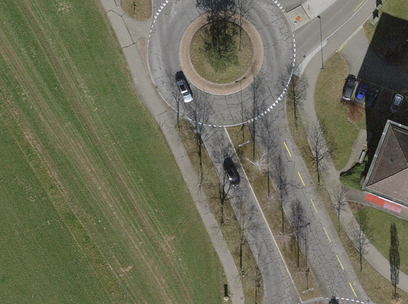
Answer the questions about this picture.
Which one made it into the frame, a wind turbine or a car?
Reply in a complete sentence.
Looking from above, you can make out a car.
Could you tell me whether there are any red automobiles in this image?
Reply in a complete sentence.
No, the picture doesn't show any red automobile.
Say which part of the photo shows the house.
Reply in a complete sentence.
The house sits in the right section of the image.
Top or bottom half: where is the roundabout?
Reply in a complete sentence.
The roundabout sits in the top half of the picture.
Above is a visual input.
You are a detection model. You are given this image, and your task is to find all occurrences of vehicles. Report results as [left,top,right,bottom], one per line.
[224,162,240,185]
[177,79,194,103]
[355,82,368,103]
[342,78,356,102]
[390,92,404,114]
